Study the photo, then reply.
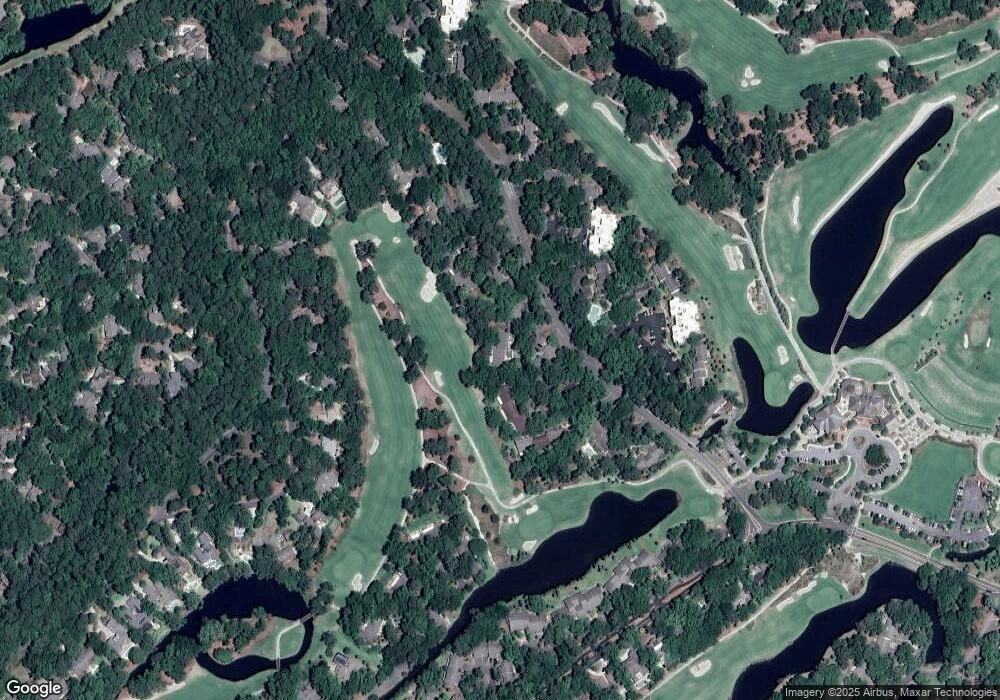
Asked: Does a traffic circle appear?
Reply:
Yes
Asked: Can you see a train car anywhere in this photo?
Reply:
No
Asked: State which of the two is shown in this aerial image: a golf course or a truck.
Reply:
golf course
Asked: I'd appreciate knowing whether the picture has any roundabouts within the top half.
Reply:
No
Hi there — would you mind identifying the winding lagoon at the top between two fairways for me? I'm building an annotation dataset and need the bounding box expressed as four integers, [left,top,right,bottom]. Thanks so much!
[571,0,731,174]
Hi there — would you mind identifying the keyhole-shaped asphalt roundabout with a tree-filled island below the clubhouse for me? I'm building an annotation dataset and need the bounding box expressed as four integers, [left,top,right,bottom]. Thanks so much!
[846,429,900,495]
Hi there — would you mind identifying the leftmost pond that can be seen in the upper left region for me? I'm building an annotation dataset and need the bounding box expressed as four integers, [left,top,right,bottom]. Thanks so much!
[0,1,112,63]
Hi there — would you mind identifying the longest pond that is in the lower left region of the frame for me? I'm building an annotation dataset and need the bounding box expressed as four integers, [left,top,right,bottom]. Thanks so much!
[127,574,315,684]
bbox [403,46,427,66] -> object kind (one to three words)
swimming pool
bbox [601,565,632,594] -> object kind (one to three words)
building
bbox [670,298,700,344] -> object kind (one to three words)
building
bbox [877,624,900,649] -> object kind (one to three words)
house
